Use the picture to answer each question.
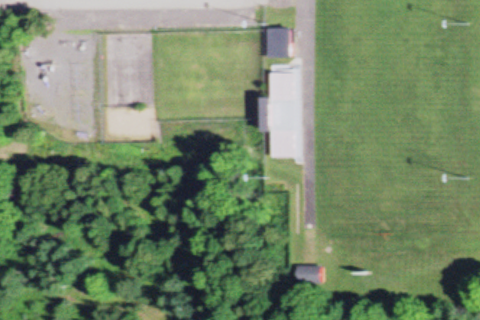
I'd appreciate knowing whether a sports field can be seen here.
Yes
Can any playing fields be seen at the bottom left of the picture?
No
